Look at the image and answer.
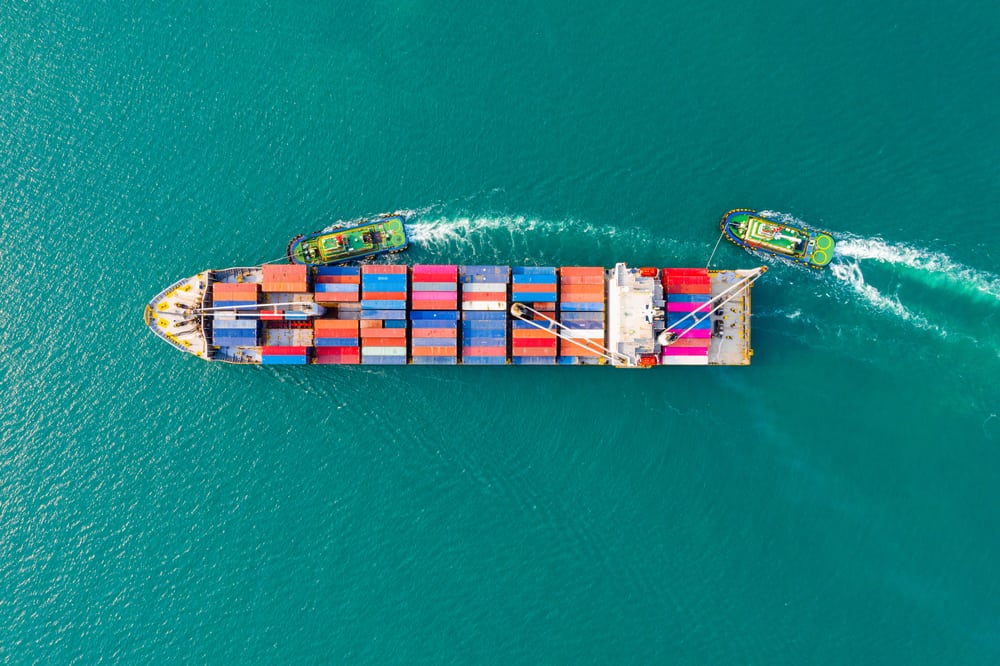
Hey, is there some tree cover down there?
No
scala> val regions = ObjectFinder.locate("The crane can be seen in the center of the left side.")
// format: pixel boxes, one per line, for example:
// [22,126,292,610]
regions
[191,303,336,319]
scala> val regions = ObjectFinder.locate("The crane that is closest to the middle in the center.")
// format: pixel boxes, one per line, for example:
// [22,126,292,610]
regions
[510,304,629,362]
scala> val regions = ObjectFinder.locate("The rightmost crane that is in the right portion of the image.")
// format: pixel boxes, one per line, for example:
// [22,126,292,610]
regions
[654,266,768,346]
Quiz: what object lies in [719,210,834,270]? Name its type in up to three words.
boat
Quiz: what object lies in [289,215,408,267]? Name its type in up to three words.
boat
